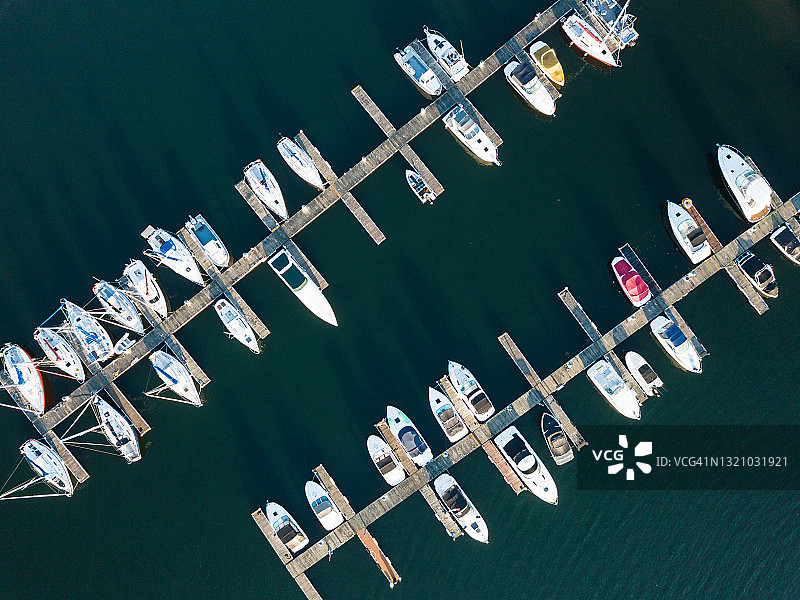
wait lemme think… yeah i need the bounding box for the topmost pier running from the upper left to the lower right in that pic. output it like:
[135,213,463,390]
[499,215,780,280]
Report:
[573,2,620,53]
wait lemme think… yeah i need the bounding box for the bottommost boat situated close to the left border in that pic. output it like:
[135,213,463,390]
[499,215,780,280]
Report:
[3,438,78,502]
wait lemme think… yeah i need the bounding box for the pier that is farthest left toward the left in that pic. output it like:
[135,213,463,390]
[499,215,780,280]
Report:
[0,367,43,424]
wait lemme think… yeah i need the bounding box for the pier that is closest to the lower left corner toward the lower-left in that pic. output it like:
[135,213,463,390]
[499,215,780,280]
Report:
[46,432,89,483]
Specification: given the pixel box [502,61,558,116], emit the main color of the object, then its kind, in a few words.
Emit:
white boat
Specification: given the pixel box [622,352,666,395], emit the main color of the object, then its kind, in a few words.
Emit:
white boat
